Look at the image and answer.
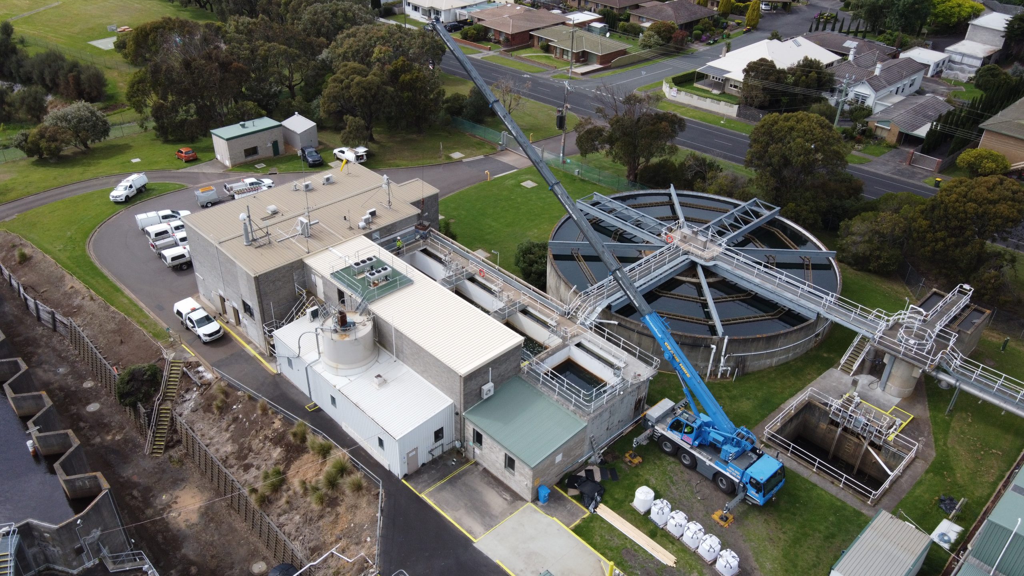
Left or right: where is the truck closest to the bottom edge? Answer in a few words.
left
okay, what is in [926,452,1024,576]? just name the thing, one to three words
building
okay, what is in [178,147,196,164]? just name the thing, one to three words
car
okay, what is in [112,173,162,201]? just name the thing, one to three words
truck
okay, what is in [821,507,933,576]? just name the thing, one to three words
shed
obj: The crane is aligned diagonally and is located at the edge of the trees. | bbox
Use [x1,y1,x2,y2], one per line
[413,14,782,519]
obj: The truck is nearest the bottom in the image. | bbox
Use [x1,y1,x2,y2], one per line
[178,297,223,343]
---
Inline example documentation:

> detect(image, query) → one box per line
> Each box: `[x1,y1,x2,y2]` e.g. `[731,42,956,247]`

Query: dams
[0,328,112,495]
